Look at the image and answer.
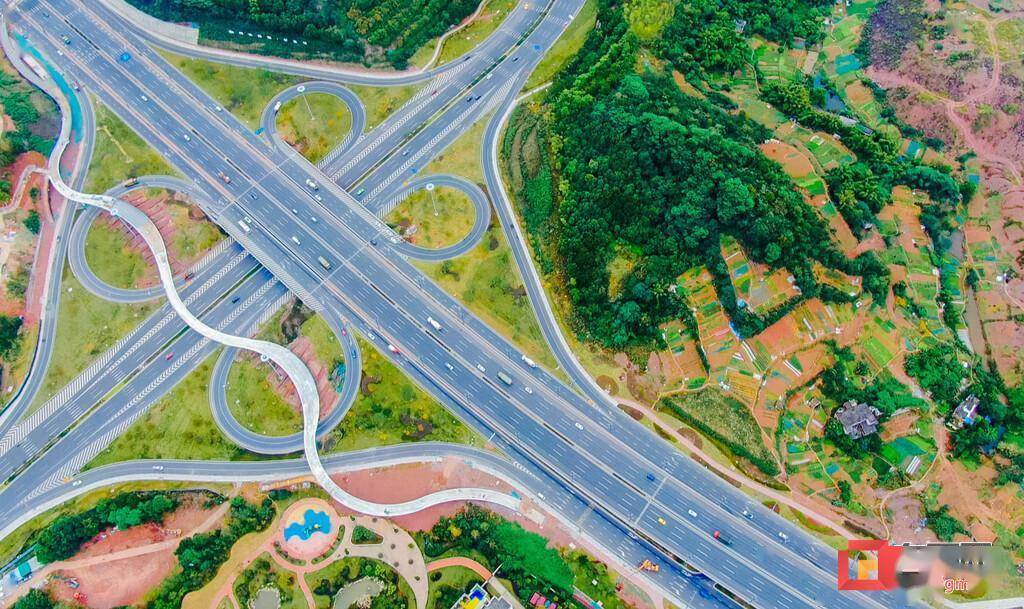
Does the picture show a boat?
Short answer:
No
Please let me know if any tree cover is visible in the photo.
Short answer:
Yes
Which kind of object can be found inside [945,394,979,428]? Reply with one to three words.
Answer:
house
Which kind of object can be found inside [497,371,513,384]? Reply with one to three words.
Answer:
vehicle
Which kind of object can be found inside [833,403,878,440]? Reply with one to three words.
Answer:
house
